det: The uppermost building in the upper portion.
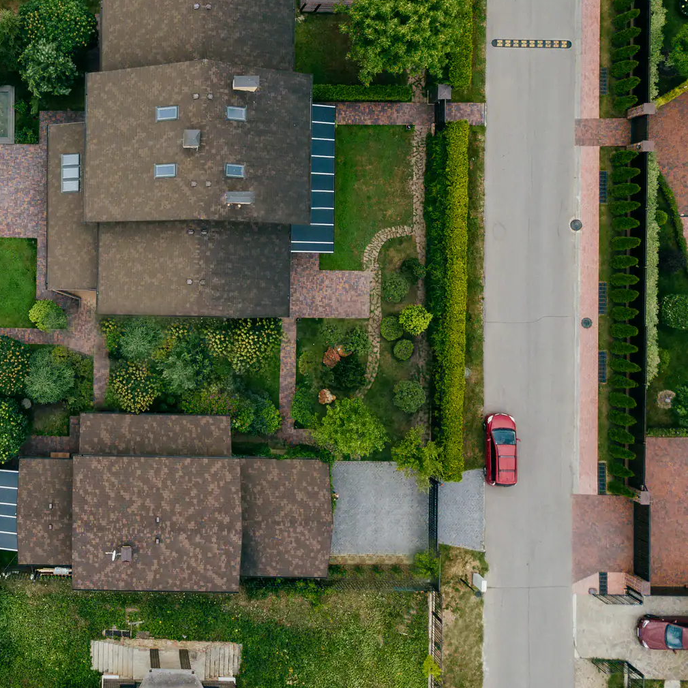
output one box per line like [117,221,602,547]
[45,0,336,320]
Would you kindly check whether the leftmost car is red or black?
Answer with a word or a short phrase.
red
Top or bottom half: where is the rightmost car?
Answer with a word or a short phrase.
bottom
